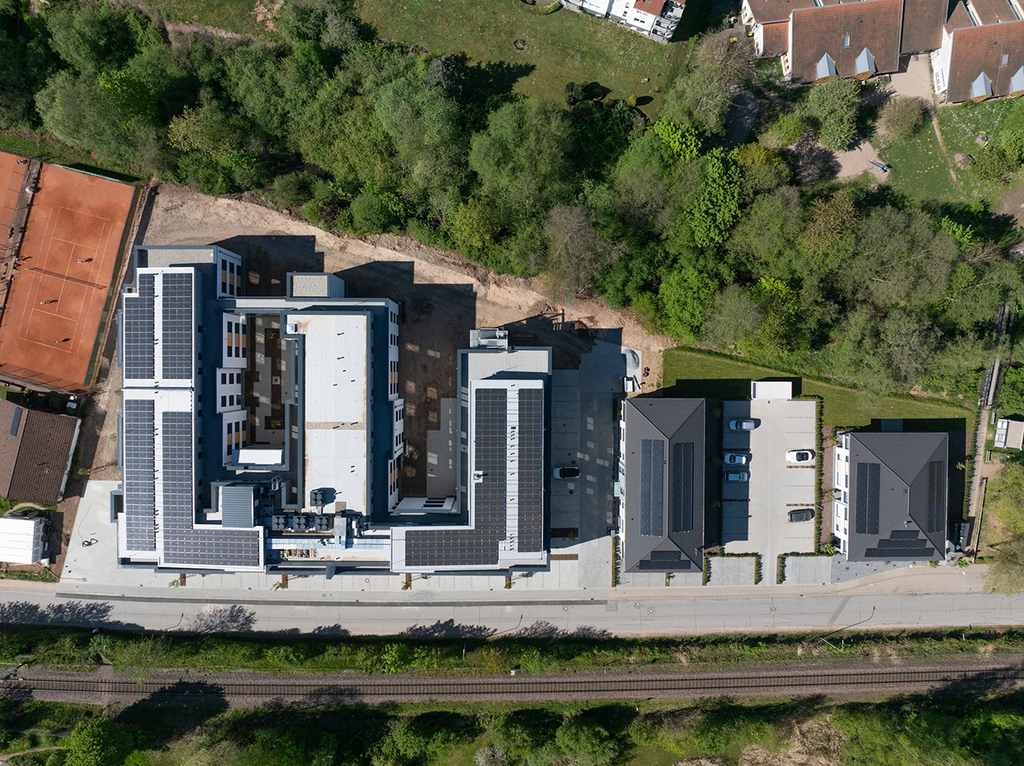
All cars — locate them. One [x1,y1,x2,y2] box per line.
[553,466,581,480]
[723,452,747,465]
[785,507,815,522]
[784,449,813,463]
[723,470,749,484]
[727,418,755,432]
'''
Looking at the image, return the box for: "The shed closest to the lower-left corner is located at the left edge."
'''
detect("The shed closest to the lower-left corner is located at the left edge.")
[0,512,49,564]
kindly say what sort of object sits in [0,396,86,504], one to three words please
house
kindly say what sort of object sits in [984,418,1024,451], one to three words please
shed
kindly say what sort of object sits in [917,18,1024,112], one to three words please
building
